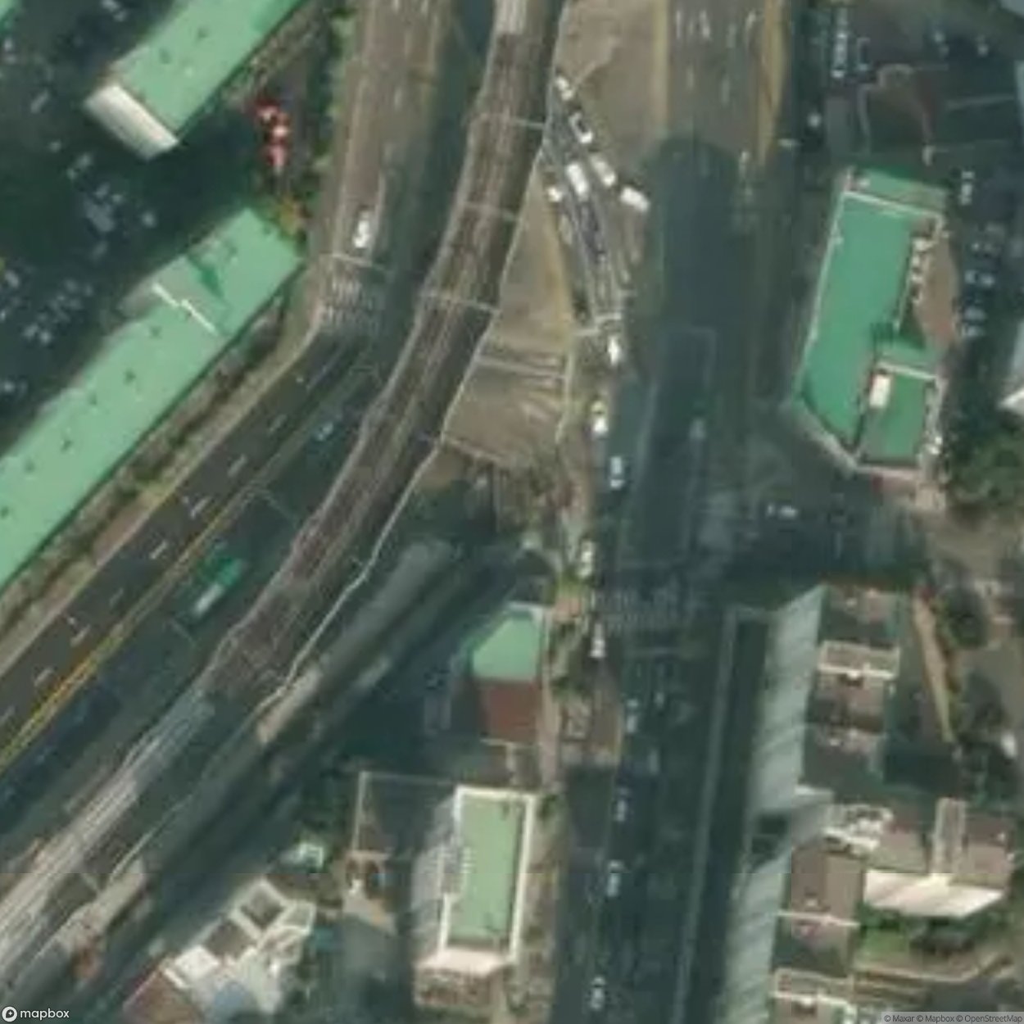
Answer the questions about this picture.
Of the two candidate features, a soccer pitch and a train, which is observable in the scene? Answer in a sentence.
I can see a train in this picture.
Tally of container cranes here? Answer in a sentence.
Not a single container crane can be seen.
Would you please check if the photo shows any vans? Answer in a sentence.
Yes, there's a van here.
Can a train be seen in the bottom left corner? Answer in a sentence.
Yes, looking in the bottom left corner, one can make out a train.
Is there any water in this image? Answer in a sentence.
No, no water is visible.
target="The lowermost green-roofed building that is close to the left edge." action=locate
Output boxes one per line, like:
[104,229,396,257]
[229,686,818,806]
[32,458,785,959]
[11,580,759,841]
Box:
[0,207,308,591]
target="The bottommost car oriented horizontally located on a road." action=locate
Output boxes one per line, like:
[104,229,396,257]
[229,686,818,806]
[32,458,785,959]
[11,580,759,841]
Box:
[764,505,796,519]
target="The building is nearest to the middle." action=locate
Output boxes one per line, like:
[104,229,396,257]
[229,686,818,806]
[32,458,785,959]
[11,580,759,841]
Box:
[455,605,547,686]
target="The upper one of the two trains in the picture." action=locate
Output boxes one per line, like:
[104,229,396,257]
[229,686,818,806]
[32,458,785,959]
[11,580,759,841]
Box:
[500,0,536,38]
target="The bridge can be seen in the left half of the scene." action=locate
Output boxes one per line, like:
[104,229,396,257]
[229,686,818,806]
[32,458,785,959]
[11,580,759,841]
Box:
[0,0,574,981]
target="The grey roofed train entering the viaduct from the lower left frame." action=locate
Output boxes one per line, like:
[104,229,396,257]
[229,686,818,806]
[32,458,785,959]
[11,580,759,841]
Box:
[0,701,208,929]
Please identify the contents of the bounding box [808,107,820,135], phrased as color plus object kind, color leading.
gray vehicle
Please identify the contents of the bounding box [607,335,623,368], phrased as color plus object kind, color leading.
white car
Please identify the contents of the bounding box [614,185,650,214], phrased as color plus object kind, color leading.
white truck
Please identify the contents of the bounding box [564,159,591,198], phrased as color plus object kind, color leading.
white vehicle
